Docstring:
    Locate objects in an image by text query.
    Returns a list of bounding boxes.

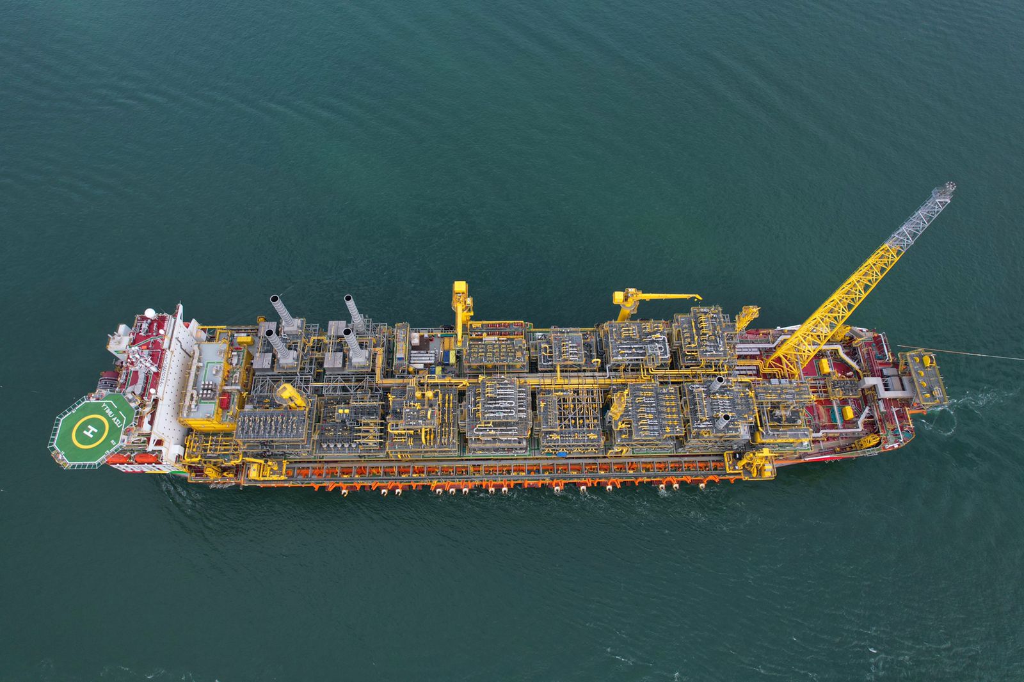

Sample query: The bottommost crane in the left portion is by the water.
[242,457,293,483]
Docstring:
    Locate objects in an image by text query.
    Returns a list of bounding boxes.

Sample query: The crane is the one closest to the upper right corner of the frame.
[612,286,702,321]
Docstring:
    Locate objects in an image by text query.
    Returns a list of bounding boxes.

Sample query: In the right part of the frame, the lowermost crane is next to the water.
[723,446,781,481]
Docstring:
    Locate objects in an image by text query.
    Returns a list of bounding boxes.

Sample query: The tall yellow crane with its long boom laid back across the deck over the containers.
[453,281,474,354]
